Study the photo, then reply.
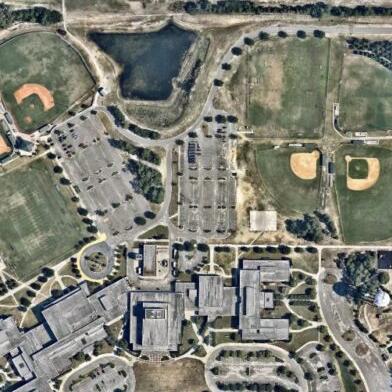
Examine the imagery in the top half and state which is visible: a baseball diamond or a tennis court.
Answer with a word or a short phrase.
baseball diamond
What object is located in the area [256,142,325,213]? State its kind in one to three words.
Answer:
baseball field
